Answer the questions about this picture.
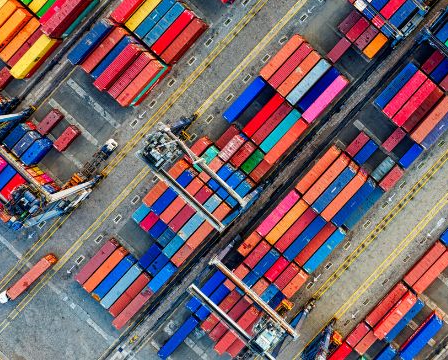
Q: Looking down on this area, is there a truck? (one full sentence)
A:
Yes, the picture does show a truck.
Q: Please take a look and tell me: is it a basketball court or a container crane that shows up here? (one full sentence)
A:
The image shows a container crane.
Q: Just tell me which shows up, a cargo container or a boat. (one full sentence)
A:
Visible in the photo is a cargo container.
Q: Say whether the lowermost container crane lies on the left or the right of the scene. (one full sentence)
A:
The lowermost container crane appears in the right half of the scene.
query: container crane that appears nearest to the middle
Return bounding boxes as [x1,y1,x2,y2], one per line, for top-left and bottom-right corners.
[135,107,275,234]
